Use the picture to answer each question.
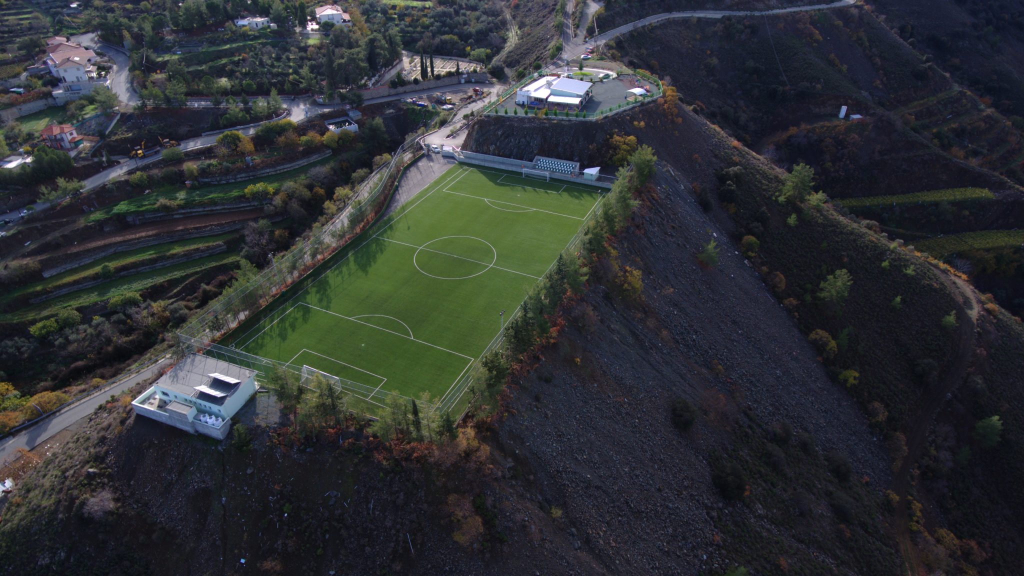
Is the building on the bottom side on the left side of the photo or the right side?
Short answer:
left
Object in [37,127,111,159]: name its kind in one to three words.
house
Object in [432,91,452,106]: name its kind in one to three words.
vehicle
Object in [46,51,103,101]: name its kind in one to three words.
house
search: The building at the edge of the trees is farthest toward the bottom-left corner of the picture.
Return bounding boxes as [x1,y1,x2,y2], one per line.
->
[154,352,268,420]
